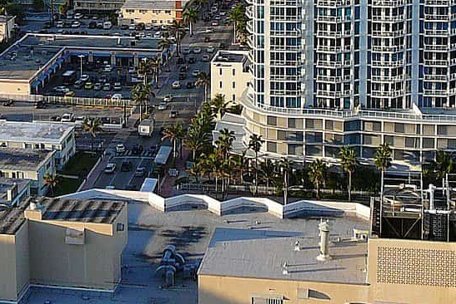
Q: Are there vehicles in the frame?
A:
Yes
